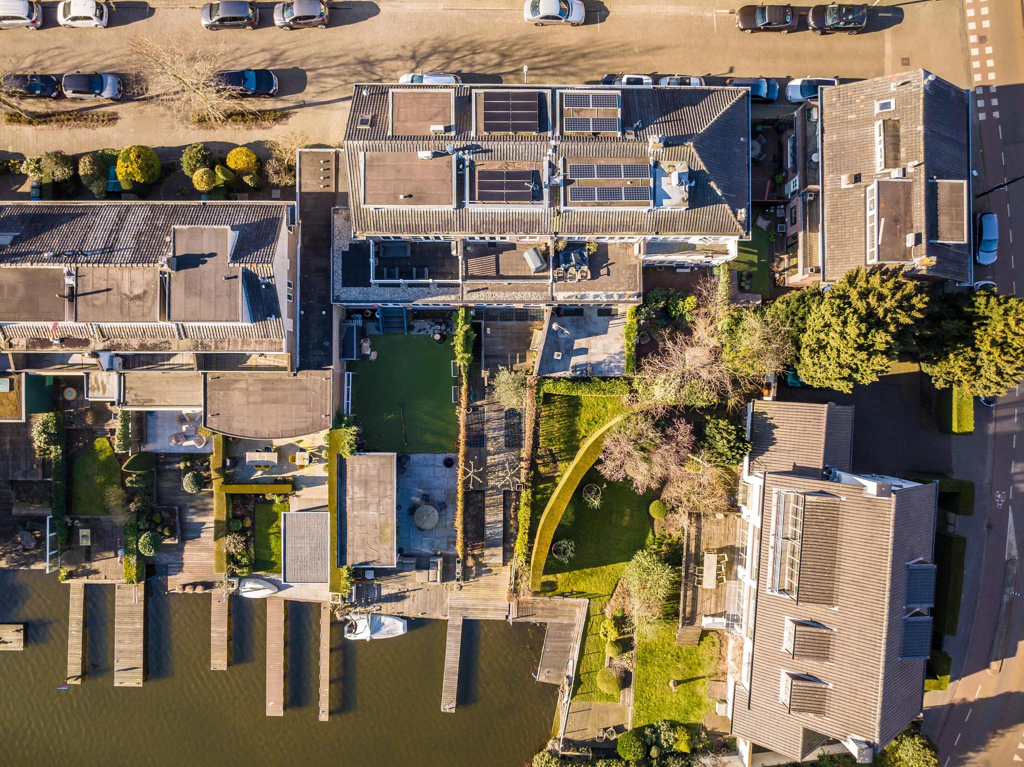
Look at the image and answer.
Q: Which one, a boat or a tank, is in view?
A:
boat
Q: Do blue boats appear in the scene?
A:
No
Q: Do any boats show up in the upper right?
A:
No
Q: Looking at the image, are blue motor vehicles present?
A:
Yes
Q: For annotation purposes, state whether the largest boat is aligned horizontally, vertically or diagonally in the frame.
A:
horizontally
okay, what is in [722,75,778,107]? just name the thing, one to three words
car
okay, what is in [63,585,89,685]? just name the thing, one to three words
pier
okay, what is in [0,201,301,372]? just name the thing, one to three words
house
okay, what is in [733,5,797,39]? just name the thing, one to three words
car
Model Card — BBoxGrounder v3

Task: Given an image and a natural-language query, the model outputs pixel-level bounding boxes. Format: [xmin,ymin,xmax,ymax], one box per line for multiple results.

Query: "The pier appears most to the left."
[0,620,29,652]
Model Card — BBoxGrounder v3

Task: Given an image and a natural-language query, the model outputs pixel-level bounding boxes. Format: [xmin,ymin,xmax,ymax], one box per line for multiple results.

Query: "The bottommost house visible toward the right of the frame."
[714,458,940,767]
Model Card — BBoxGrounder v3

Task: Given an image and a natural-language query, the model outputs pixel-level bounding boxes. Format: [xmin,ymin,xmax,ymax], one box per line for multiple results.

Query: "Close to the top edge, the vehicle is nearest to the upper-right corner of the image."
[804,5,866,39]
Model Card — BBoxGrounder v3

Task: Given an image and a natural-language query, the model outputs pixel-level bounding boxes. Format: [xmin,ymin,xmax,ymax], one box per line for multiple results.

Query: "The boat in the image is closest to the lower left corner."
[238,578,280,599]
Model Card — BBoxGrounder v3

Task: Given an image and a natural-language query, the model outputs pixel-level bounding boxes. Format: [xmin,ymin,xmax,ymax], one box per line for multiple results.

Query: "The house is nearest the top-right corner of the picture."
[781,64,972,292]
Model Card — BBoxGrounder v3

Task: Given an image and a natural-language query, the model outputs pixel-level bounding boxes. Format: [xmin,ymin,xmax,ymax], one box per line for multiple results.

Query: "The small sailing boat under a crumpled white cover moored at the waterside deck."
[345,614,408,642]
